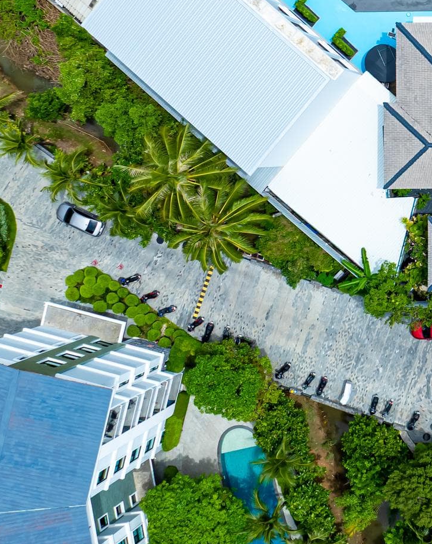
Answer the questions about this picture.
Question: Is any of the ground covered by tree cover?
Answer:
Yes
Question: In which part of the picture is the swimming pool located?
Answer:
bottom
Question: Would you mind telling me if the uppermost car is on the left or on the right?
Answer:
left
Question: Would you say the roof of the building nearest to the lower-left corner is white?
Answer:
No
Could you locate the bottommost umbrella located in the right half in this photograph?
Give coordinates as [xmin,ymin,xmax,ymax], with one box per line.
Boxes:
[366,48,395,80]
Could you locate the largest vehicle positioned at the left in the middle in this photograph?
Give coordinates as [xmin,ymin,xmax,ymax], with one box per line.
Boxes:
[56,203,106,236]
